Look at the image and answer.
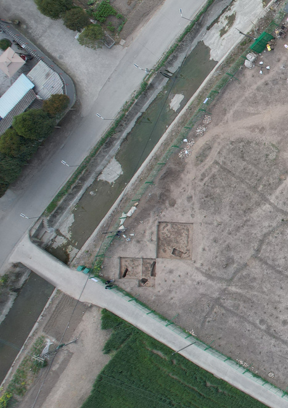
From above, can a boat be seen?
No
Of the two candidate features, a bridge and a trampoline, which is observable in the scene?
bridge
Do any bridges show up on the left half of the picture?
Yes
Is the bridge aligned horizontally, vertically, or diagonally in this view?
diagonally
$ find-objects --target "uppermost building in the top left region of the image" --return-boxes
[0,47,37,78]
